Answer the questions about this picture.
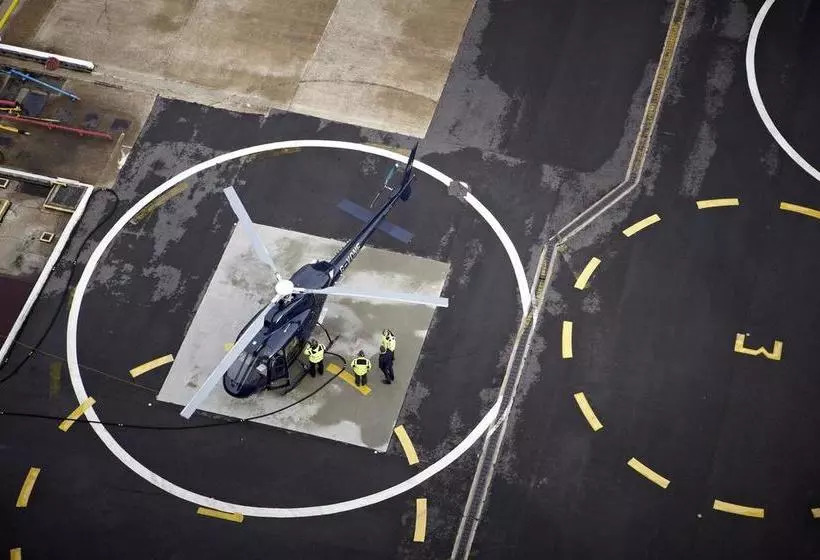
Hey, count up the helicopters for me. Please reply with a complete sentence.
There is 1 helicopter in the image.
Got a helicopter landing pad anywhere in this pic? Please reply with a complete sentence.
Yes, the frame does contain a helicopter landing pad.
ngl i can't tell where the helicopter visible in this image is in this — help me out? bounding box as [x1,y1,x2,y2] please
[183,145,448,416]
